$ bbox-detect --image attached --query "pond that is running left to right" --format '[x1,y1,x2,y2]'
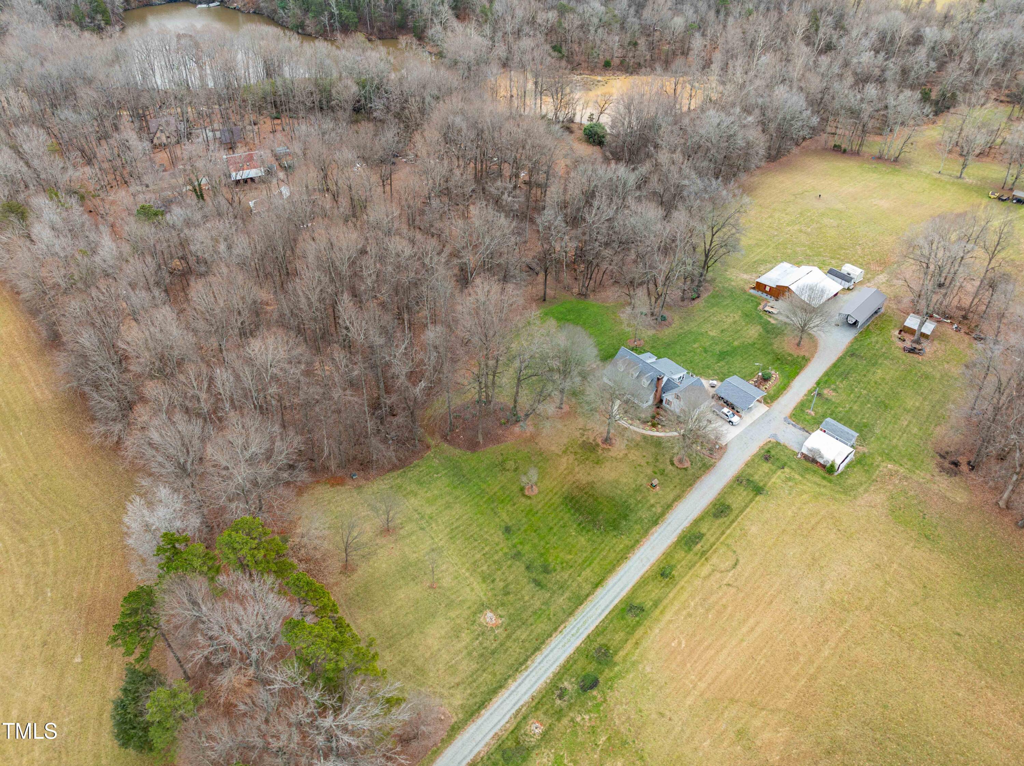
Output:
[490,72,721,132]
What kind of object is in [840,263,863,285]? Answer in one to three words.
vehicle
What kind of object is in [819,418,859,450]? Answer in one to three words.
shed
